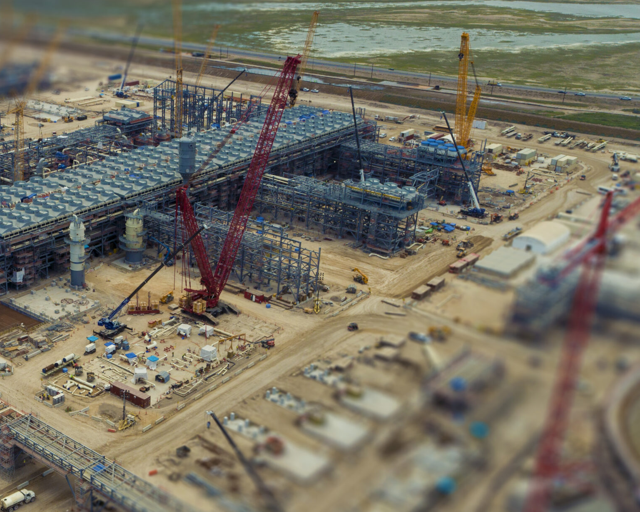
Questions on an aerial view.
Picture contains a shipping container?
Yes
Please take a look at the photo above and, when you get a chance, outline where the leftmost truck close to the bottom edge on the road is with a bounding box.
[0,486,40,512]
